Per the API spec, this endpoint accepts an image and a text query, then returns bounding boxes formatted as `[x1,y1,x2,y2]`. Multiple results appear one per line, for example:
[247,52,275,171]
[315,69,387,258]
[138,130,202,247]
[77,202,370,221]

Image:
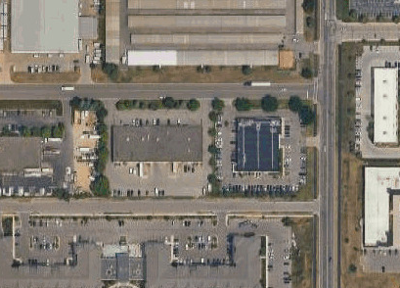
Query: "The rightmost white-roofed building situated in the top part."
[373,66,398,142]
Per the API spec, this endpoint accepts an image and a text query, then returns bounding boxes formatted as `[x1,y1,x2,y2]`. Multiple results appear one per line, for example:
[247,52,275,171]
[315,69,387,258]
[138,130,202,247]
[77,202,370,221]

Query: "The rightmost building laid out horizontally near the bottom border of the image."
[142,236,261,288]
